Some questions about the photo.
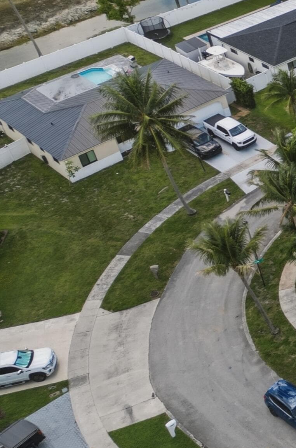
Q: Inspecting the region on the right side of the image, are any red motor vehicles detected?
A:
No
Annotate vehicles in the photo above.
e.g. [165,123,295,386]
[0,413,56,448]
[174,124,220,157]
[202,116,257,150]
[258,378,296,433]
[0,347,56,385]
